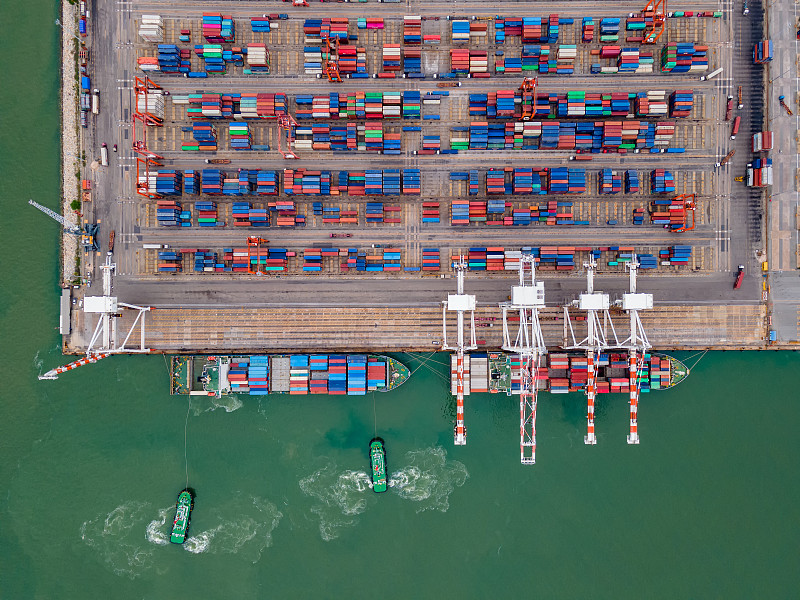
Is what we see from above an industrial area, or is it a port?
port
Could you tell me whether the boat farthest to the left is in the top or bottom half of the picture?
bottom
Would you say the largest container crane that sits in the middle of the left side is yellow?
No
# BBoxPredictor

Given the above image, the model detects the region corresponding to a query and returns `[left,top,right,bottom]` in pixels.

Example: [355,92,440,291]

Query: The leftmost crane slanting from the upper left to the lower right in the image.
[28,200,102,256]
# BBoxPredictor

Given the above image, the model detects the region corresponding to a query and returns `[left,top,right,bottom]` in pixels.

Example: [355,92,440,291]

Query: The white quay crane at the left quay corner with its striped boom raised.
[49,251,147,380]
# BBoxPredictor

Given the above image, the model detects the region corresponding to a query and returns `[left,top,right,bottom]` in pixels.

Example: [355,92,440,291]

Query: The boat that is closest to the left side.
[170,488,194,545]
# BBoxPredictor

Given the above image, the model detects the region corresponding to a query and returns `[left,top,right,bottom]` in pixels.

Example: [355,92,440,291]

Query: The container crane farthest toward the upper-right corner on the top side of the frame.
[637,0,665,45]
